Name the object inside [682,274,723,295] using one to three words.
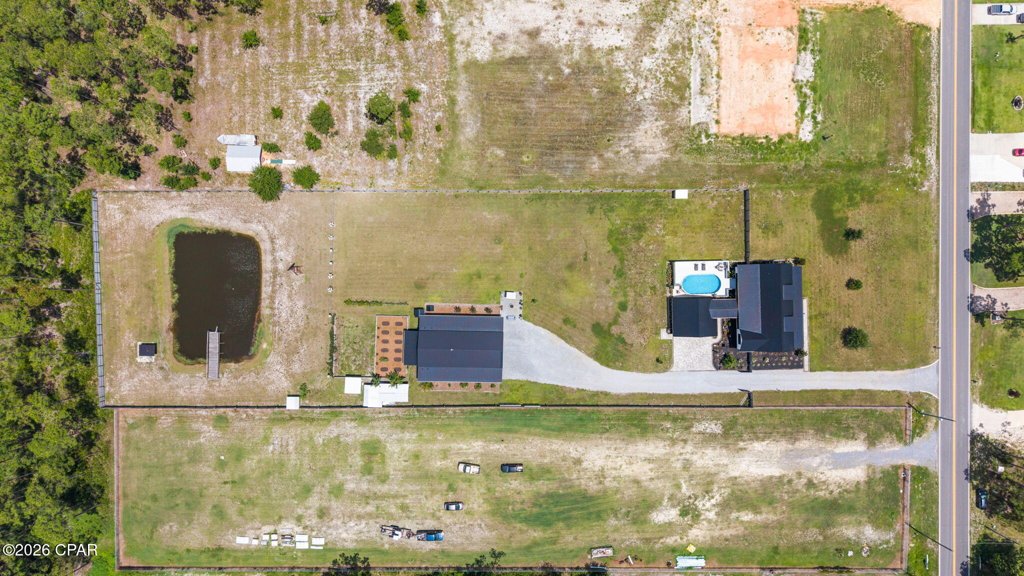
swimming pool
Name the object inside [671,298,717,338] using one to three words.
building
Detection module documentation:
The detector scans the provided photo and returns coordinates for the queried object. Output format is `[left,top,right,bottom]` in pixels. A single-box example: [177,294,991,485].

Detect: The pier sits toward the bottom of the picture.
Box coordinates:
[205,327,225,377]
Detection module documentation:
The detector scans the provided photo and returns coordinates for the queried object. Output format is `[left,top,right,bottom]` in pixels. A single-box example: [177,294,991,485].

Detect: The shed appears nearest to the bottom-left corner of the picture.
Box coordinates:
[138,342,159,361]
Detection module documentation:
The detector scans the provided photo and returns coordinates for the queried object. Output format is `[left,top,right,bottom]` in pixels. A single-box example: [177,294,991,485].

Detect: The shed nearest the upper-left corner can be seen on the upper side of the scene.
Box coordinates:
[227,146,265,173]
